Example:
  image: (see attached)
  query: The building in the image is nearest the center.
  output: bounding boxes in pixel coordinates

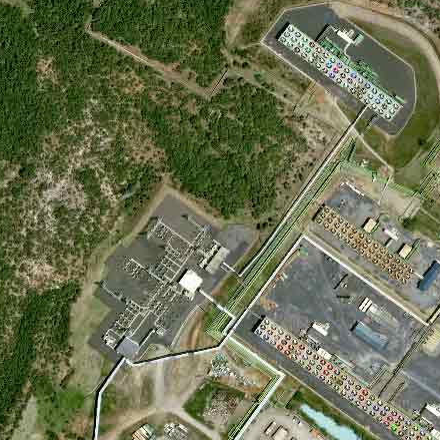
[204,245,228,273]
